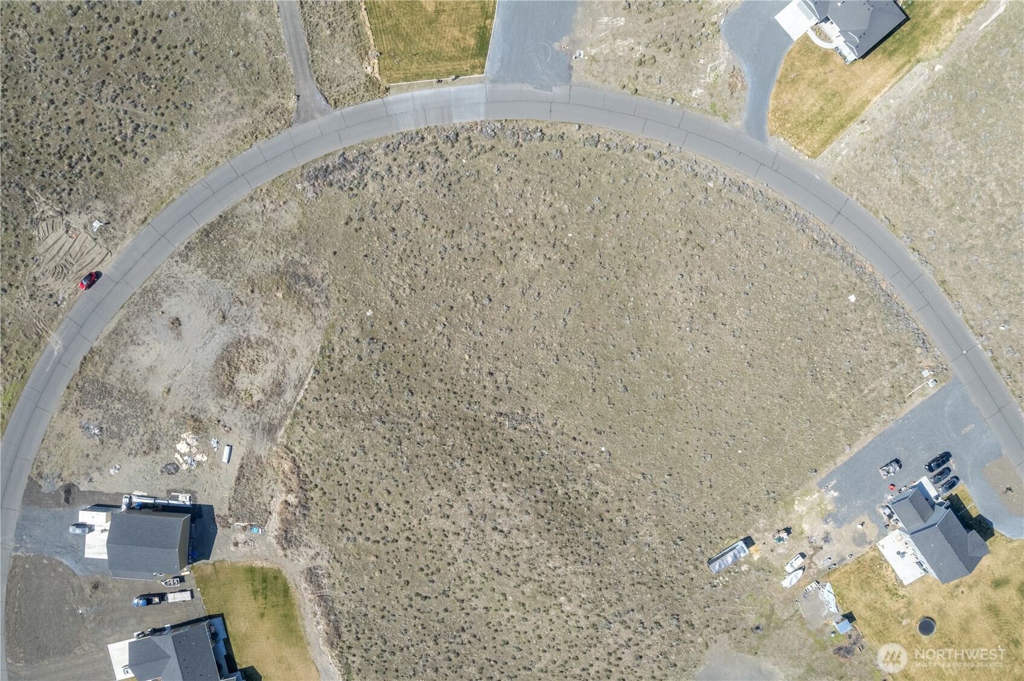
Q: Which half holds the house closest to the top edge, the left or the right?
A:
right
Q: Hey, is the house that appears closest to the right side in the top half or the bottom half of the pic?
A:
bottom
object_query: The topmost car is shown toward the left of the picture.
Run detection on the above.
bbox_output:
[79,269,98,290]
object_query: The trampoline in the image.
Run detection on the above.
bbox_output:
[918,618,937,635]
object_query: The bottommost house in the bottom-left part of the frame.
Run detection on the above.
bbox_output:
[128,621,243,681]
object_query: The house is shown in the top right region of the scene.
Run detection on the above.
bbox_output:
[792,0,907,61]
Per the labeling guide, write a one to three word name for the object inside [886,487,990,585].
house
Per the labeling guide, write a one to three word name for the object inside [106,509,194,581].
building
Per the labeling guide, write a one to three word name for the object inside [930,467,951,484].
car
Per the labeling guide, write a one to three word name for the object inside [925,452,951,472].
vehicle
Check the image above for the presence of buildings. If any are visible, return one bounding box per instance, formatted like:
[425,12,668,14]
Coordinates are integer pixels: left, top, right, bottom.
[128,621,243,681]
[886,487,990,585]
[832,614,851,632]
[106,509,194,581]
[792,0,907,61]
